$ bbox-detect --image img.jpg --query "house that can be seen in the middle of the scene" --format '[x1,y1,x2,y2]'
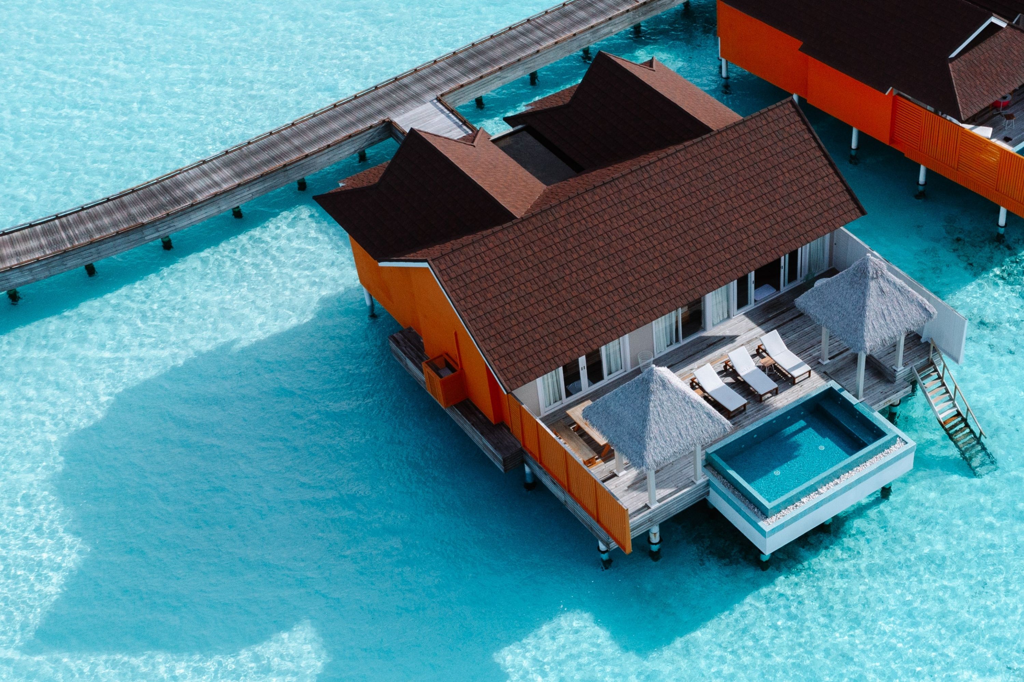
[315,50,867,507]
